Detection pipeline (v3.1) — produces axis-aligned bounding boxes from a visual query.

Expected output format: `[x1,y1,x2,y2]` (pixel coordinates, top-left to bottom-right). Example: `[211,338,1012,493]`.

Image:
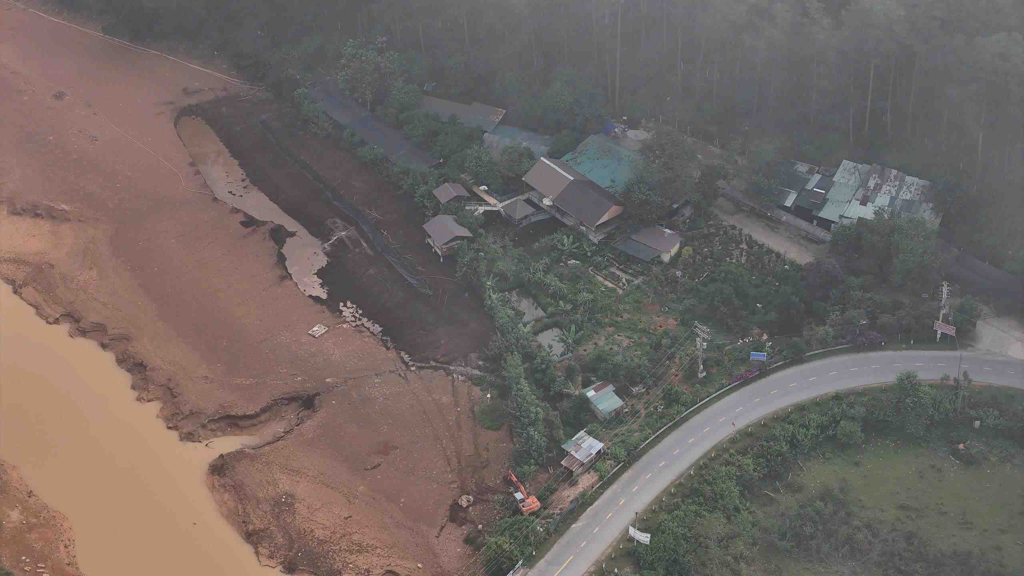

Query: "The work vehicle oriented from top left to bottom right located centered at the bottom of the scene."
[503,464,544,517]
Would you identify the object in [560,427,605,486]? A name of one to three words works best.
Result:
shed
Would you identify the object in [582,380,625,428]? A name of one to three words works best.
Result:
shed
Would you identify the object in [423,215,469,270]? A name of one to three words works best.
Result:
building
